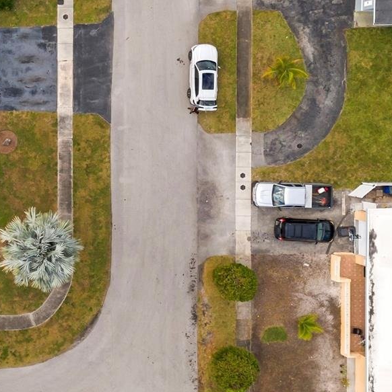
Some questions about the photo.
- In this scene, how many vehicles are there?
3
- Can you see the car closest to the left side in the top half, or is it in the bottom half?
top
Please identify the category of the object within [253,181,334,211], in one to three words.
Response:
truck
